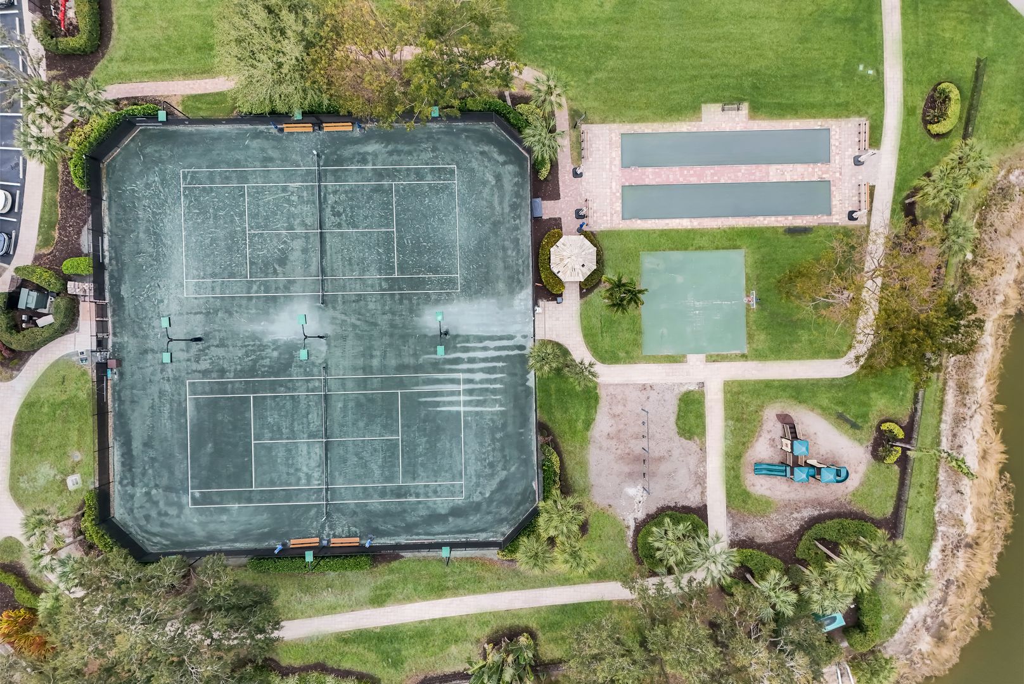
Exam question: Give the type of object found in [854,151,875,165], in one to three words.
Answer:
umbrella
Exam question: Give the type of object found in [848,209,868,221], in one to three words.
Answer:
umbrella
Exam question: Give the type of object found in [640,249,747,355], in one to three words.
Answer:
basketball court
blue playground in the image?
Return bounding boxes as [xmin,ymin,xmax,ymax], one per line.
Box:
[754,414,851,486]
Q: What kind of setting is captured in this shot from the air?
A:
sports ground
